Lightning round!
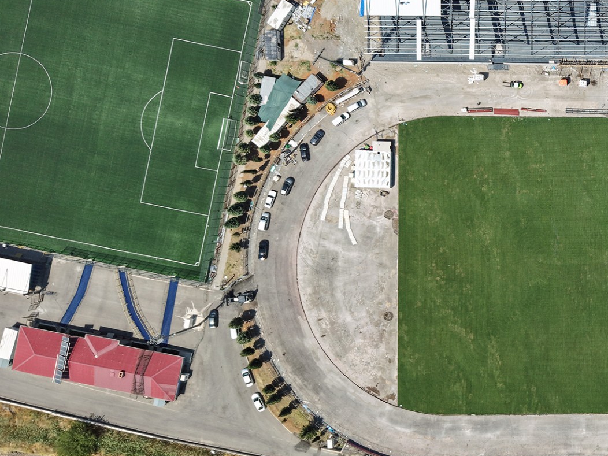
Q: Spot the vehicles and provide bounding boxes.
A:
[264,190,279,209]
[225,292,256,304]
[209,309,220,328]
[231,328,238,339]
[310,129,325,147]
[243,367,255,386]
[335,83,365,105]
[332,113,351,127]
[260,240,270,260]
[253,392,267,412]
[259,211,271,231]
[281,177,295,196]
[347,99,366,113]
[300,143,311,162]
